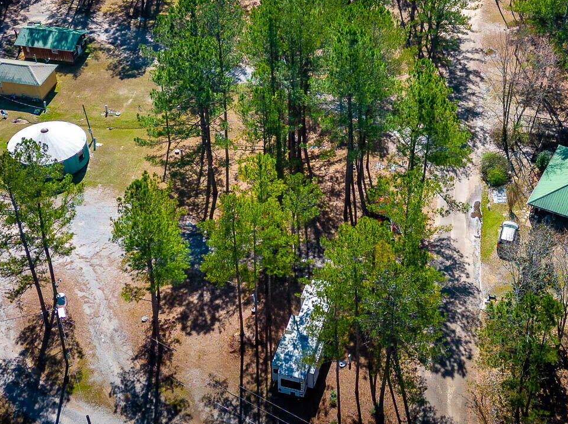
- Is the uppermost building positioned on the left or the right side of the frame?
left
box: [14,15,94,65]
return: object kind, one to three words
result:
building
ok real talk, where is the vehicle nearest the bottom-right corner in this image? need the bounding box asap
[498,222,519,255]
